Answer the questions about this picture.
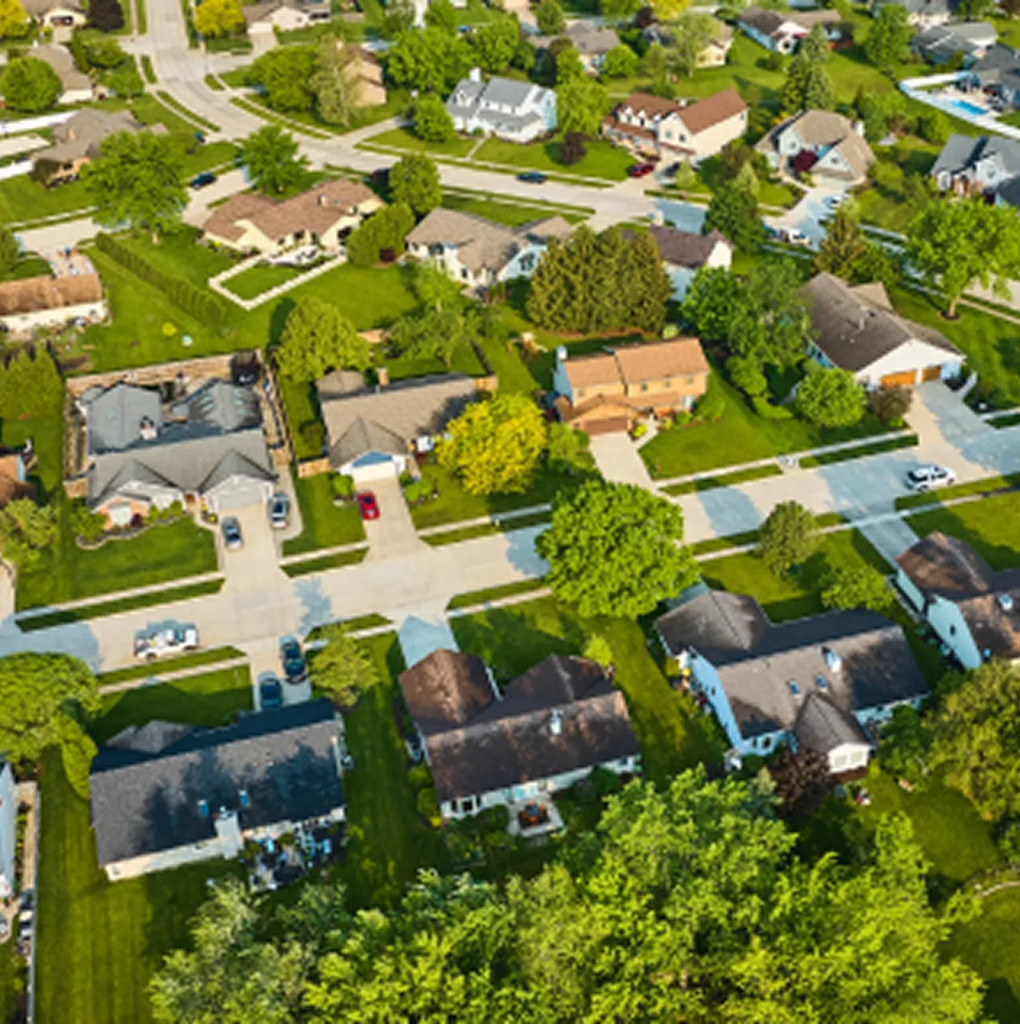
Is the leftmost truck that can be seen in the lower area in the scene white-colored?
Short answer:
Yes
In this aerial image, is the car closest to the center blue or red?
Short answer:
red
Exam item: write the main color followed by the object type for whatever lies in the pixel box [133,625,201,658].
white truck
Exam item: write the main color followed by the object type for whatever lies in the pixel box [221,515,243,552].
gray car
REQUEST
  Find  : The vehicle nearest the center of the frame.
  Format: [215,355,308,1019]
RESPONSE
[357,491,381,523]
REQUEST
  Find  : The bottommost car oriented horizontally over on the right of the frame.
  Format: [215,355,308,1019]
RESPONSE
[906,467,955,492]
